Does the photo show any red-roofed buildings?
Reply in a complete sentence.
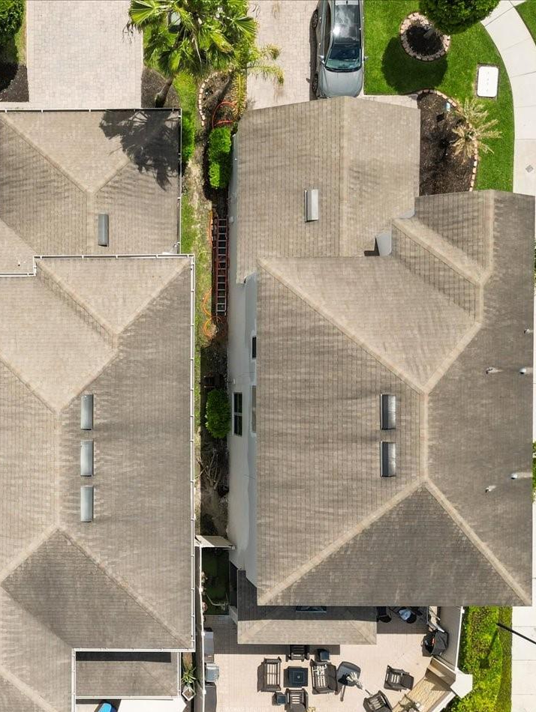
No, I can see no red-roofed building in this picture.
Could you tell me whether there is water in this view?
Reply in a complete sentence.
No, the picture contains no water.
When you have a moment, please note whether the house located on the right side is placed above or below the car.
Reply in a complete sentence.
In the image, the house located on the right side sits below the car.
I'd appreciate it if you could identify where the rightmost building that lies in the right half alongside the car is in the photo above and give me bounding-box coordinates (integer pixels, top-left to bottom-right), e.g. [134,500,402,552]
[229,96,534,646]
